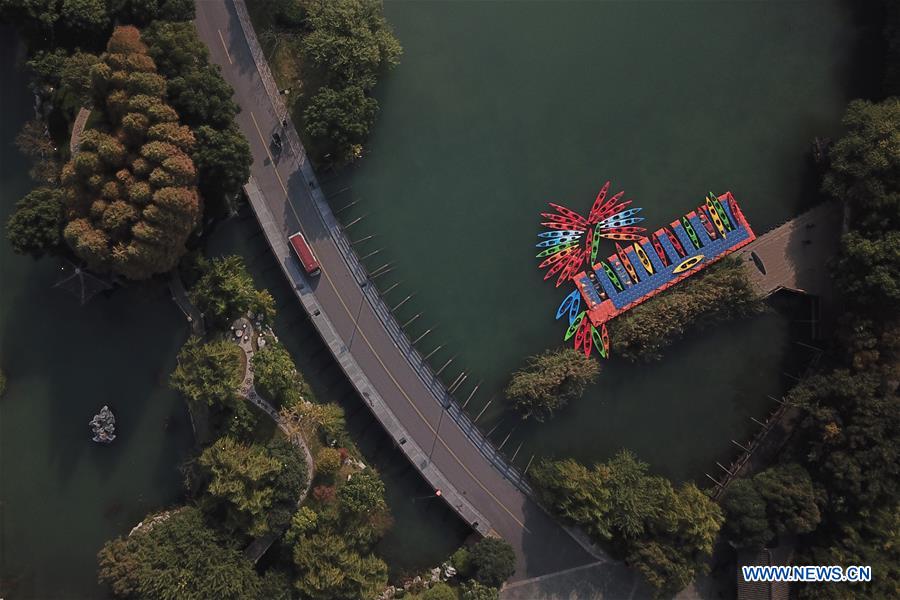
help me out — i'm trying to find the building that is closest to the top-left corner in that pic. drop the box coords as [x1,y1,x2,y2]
[54,248,113,303]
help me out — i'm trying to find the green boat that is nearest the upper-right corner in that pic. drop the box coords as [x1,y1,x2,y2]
[711,192,730,232]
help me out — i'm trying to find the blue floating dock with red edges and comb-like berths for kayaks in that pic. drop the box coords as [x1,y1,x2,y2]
[571,192,756,325]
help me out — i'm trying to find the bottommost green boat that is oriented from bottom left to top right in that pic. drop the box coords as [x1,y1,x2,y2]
[564,312,585,340]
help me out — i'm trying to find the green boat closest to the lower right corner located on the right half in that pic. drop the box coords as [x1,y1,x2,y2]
[591,325,606,358]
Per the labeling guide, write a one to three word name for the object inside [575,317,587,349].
boat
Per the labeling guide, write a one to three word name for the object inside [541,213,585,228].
boat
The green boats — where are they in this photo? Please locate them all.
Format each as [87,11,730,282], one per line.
[591,325,606,358]
[592,223,600,265]
[711,192,730,232]
[537,242,578,257]
[564,312,585,340]
[605,260,622,291]
[681,218,699,249]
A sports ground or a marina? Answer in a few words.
marina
